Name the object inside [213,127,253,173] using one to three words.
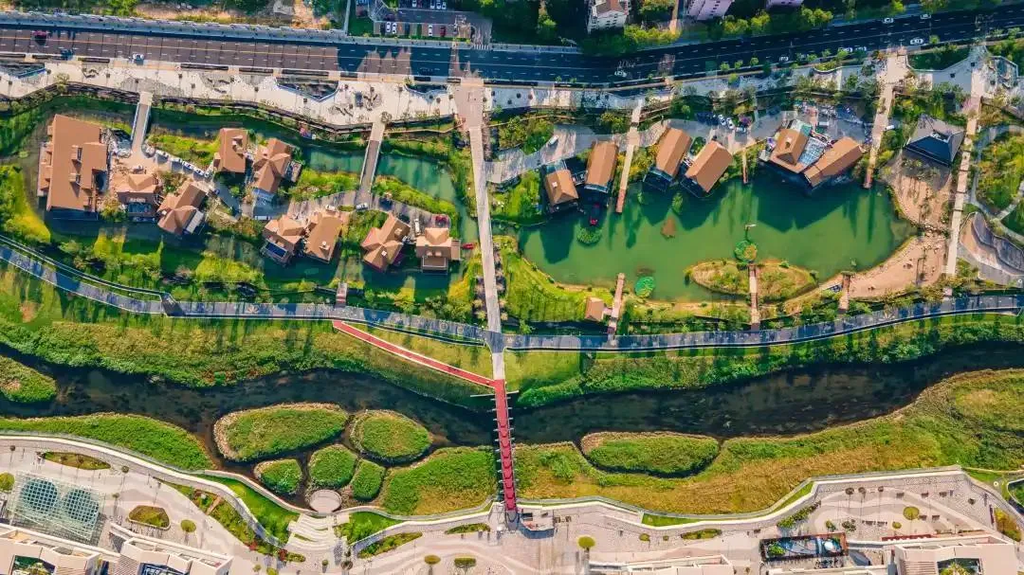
house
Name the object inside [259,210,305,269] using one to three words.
house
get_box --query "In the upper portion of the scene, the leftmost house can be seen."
[38,114,115,220]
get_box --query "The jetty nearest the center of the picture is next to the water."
[608,274,625,335]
